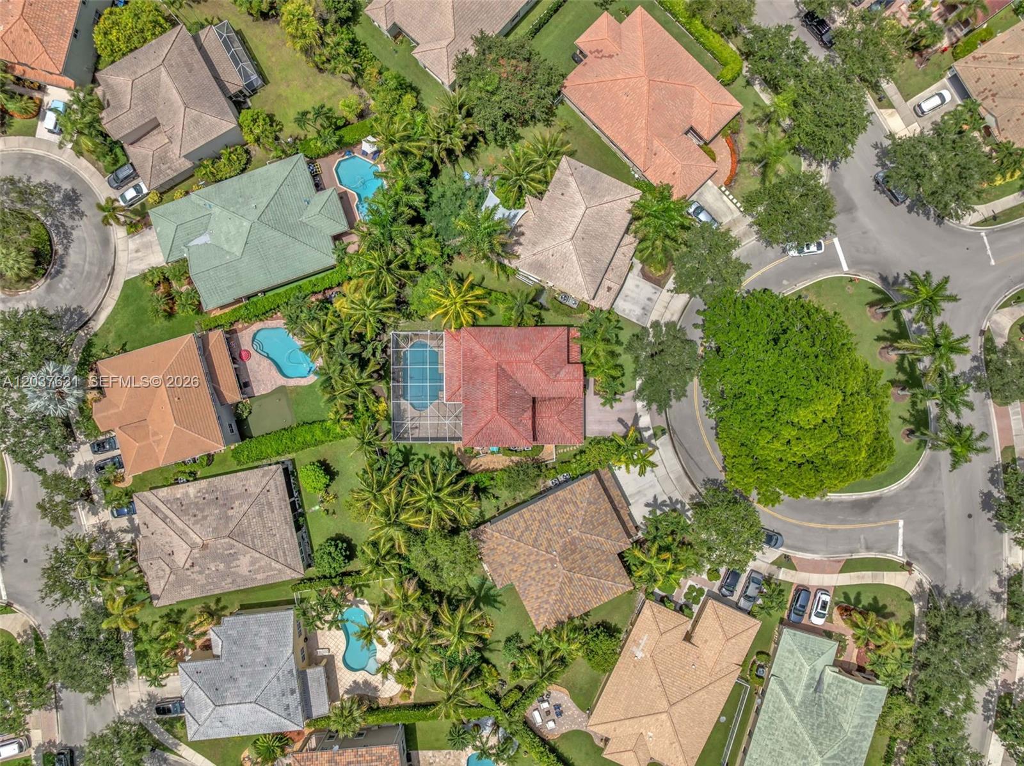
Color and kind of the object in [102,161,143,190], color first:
gray car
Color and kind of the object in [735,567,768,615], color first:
gray car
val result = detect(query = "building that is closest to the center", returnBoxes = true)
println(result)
[445,326,584,447]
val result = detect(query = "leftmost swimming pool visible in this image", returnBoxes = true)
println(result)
[250,324,319,380]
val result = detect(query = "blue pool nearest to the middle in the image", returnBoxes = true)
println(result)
[400,338,442,413]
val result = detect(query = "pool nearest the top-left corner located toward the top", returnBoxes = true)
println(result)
[331,153,388,223]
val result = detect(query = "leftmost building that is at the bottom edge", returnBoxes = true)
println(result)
[179,603,331,741]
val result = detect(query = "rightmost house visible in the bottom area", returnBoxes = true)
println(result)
[735,624,887,766]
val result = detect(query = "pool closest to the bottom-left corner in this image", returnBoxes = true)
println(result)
[338,605,381,677]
